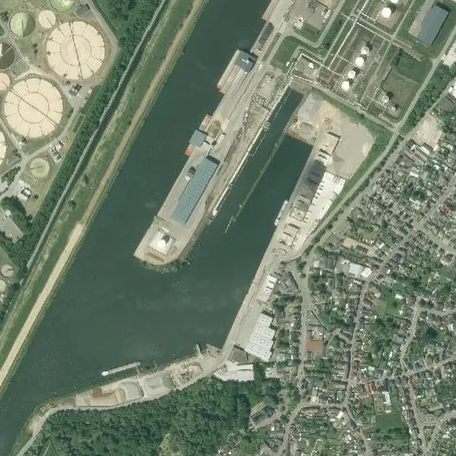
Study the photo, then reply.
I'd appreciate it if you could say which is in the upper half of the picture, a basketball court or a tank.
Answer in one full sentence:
The feature located in the upper half of the picture is a tank.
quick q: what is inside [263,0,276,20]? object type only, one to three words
ship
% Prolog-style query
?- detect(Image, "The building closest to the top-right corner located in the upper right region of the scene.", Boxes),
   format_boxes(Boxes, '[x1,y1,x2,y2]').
[416,4,450,45]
